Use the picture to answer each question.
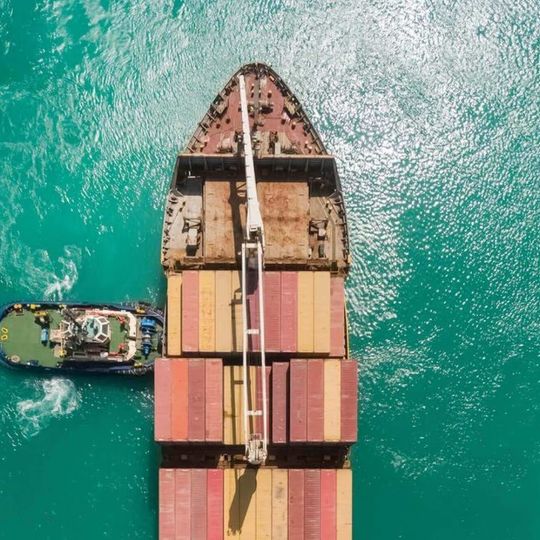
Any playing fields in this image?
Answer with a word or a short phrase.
No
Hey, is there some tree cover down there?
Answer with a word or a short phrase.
No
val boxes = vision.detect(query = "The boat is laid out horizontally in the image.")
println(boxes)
[0,300,161,377]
